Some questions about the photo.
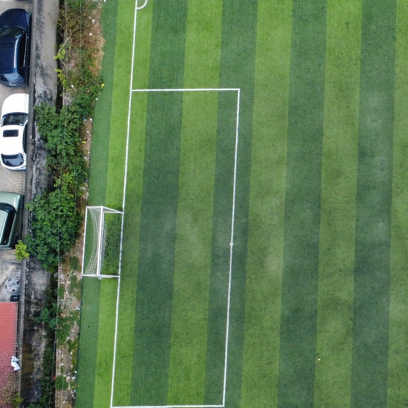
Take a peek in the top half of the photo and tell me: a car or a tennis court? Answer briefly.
car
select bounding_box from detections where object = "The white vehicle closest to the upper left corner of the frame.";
[0,91,29,169]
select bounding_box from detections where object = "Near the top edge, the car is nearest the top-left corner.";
[0,5,32,85]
